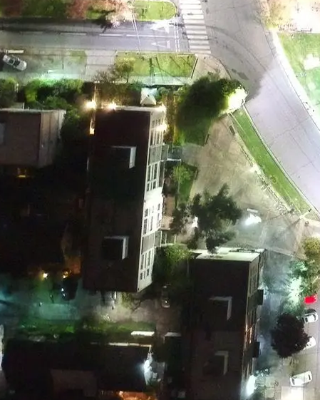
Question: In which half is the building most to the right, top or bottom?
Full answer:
You can find the building most to the right in the bottom half.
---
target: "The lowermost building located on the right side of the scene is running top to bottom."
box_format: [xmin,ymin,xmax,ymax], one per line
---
[185,250,262,400]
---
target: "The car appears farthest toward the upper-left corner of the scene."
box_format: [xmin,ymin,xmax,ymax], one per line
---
[2,53,25,69]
